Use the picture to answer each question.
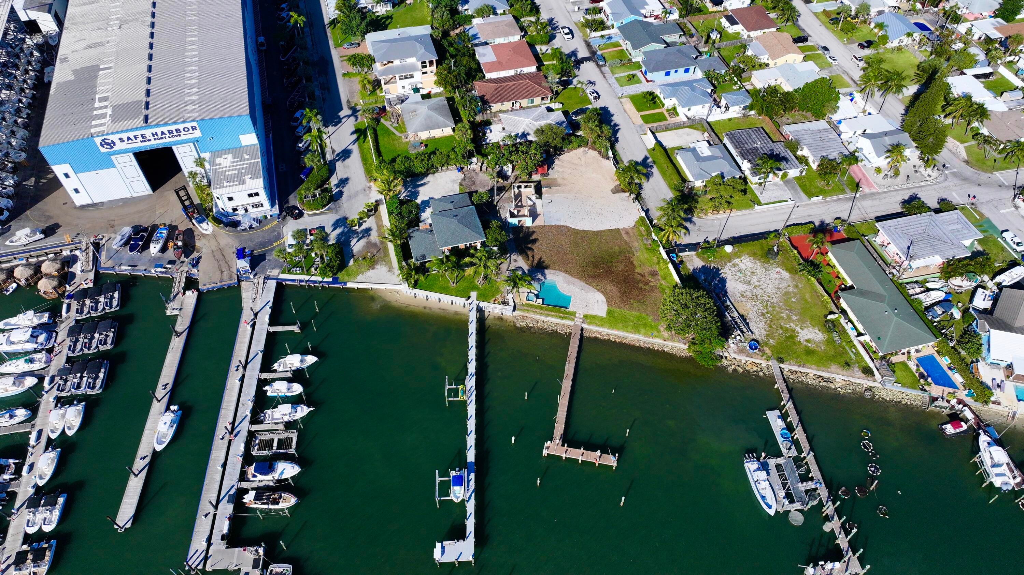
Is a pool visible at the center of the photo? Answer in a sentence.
Yes, there is a pool at the center of the photo.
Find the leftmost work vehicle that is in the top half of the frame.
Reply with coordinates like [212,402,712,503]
[168,174,205,217]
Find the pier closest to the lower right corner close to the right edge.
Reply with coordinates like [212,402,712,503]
[967,405,1024,491]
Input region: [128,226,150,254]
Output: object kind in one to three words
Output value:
boat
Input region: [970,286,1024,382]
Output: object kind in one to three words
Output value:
house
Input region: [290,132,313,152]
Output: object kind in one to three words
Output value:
vehicle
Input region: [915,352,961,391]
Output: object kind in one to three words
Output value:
swimming pool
